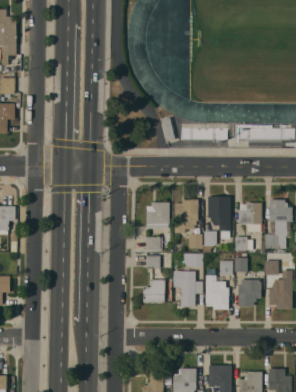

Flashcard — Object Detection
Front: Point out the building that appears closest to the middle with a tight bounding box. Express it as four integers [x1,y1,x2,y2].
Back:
[147,202,171,228]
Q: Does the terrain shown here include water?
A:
No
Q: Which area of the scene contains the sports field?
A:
top right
